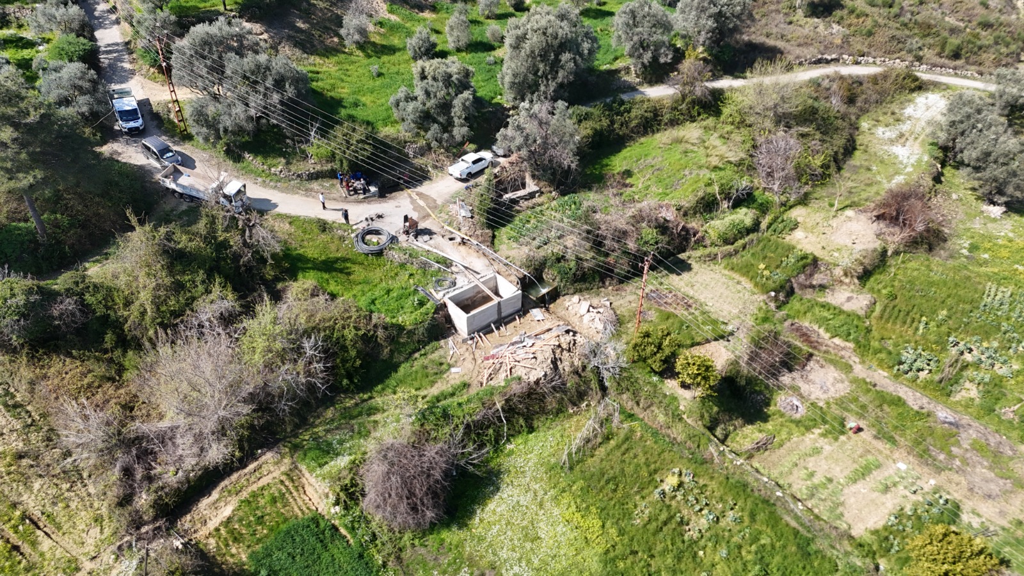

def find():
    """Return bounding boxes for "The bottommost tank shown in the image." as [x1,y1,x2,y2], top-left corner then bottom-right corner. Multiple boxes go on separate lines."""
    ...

[447,273,522,343]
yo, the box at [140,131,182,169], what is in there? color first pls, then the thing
gray van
